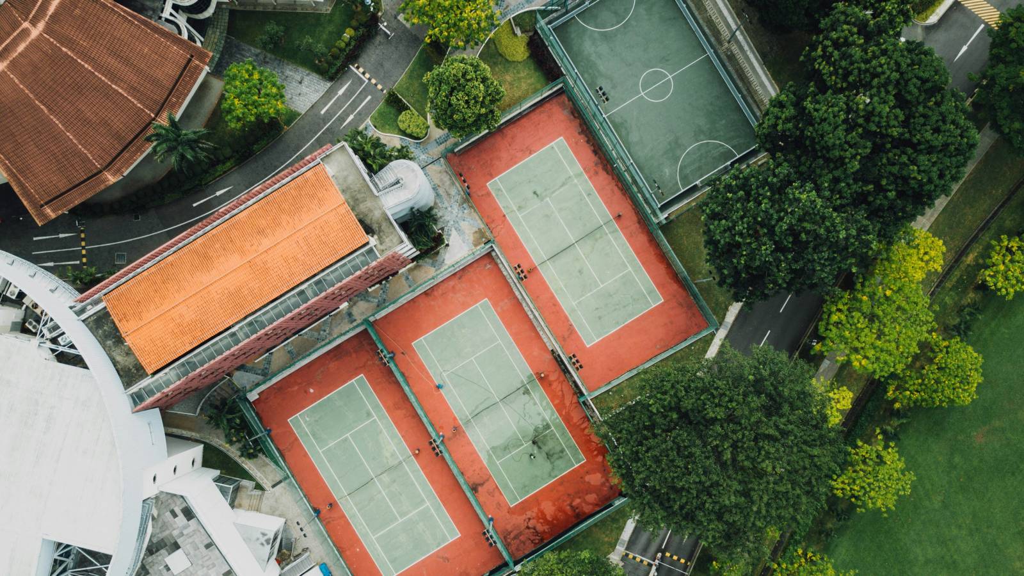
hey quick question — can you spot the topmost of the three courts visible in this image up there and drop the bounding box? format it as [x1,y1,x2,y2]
[449,90,711,393]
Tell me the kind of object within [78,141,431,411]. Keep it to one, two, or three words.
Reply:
building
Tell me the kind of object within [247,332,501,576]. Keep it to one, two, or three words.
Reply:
tennis court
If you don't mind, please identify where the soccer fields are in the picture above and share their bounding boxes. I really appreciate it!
[555,0,764,202]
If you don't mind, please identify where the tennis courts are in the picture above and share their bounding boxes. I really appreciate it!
[449,90,711,393]
[370,254,627,559]
[247,332,501,576]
